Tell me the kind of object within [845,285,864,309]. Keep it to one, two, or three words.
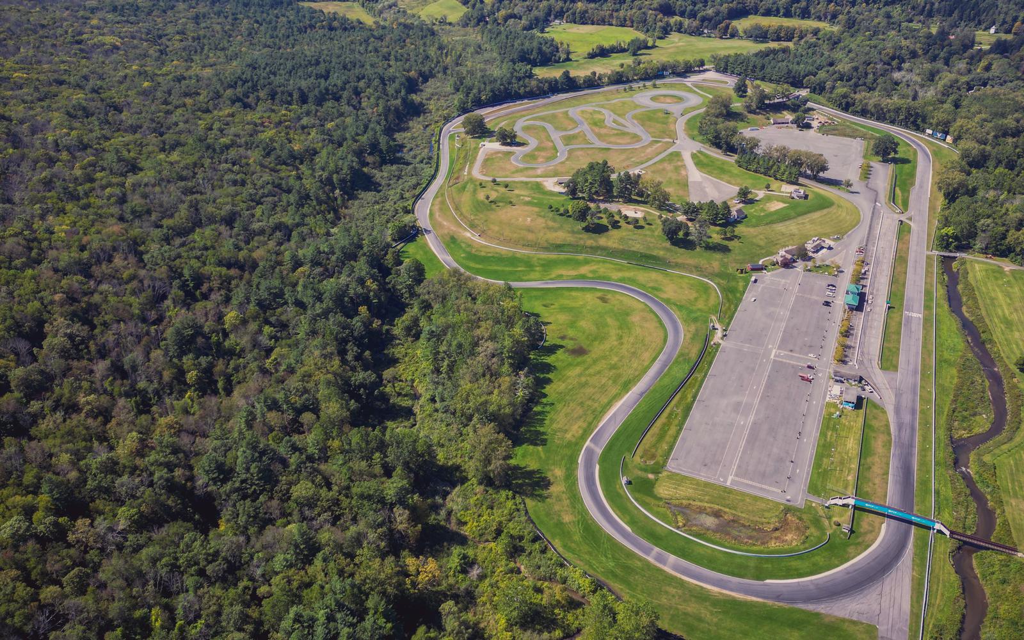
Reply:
building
